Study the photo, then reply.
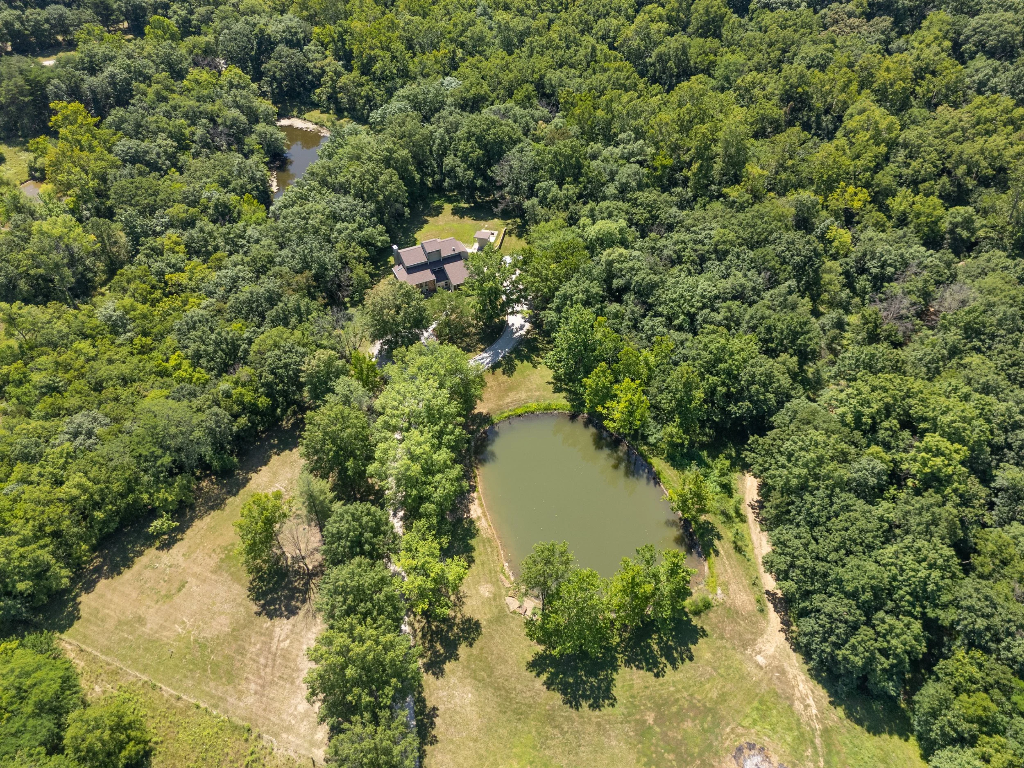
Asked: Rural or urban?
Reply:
rural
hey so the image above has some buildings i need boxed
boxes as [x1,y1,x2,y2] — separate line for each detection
[473,229,490,247]
[392,237,470,300]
